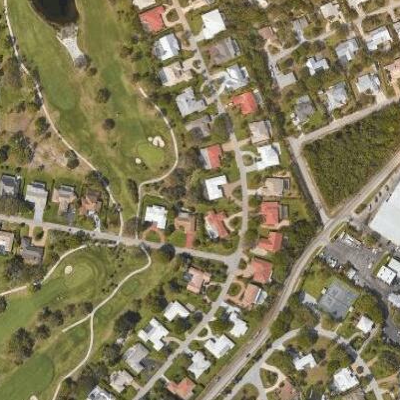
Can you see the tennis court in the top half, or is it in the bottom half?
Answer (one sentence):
The bottom half of the photo is where the tennis court is.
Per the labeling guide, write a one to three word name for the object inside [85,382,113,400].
house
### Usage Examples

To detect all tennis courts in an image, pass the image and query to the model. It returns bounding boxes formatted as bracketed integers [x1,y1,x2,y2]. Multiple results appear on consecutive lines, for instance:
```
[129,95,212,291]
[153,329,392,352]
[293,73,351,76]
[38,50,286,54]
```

[320,274,366,323]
